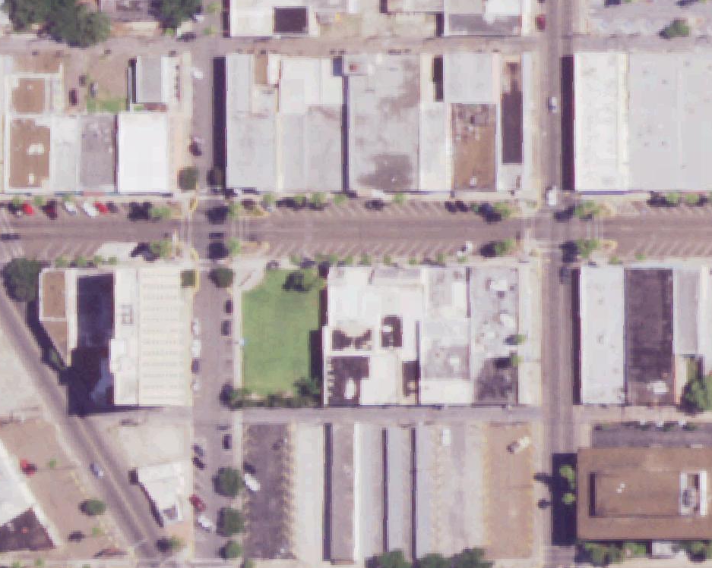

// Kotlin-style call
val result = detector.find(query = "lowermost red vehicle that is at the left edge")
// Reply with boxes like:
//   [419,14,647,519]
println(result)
[21,460,34,477]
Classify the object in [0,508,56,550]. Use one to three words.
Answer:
building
